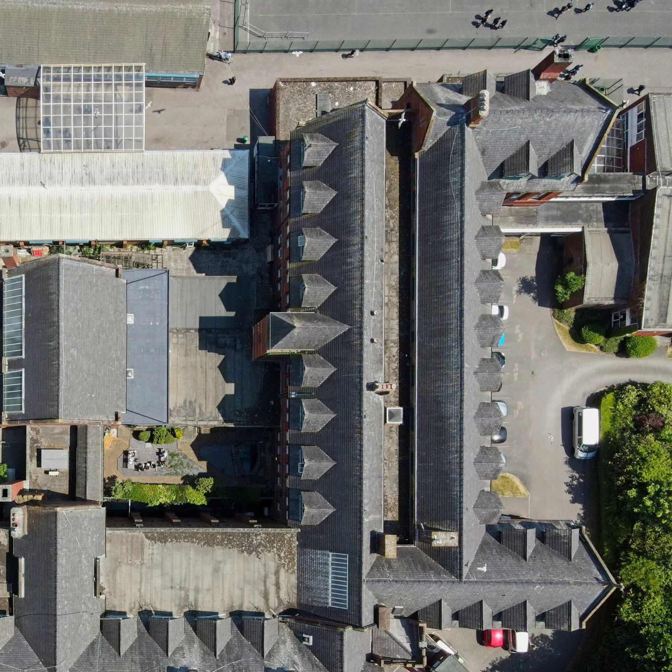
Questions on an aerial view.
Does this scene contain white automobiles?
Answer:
Yes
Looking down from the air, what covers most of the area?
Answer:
buildings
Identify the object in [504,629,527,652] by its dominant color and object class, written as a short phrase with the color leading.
white car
